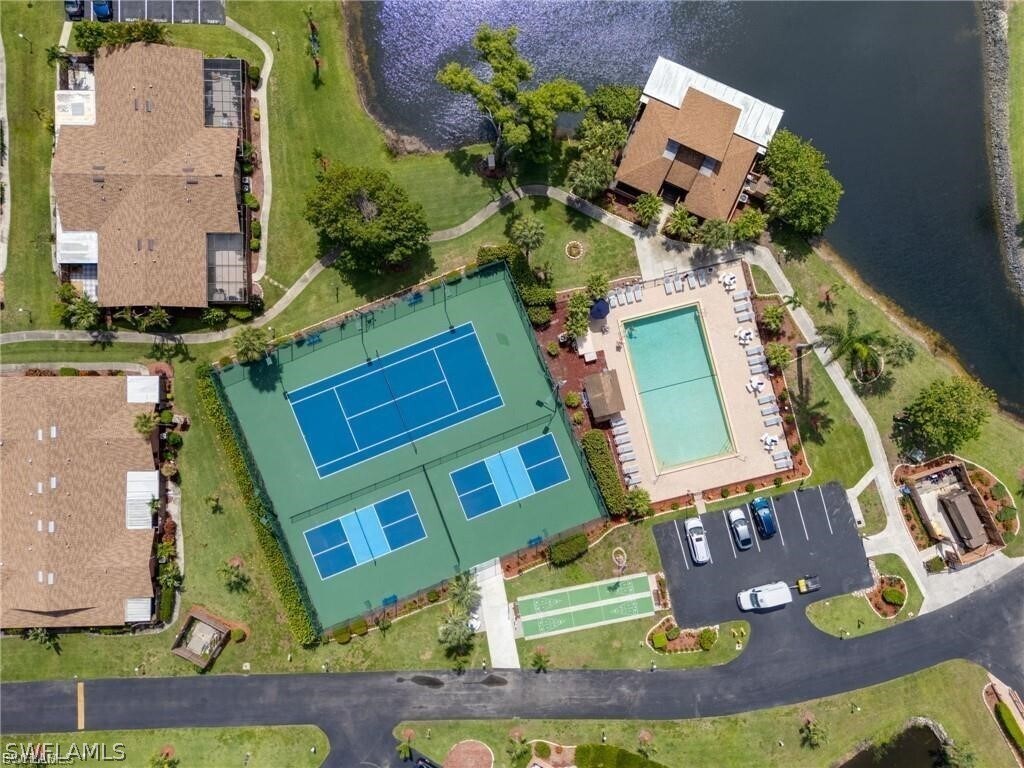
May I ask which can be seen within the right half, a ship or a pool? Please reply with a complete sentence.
Visible within the right half is a pool.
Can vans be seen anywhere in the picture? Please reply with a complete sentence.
Yes, I can see a van in this picture.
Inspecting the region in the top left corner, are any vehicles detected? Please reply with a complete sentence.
Yes, a vehicle shows up in the top left corner.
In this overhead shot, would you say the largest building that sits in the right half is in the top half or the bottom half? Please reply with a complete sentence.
The top half of the photo is where the largest building that sits in the right half is.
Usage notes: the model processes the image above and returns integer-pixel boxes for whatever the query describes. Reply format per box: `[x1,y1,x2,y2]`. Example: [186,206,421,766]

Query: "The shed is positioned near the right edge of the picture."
[932,491,989,549]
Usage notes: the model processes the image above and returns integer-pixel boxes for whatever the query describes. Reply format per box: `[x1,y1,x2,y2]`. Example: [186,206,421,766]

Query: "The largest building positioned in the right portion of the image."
[614,57,782,224]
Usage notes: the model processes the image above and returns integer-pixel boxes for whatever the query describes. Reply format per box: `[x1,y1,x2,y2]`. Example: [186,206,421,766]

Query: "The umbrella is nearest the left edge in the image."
[590,300,609,319]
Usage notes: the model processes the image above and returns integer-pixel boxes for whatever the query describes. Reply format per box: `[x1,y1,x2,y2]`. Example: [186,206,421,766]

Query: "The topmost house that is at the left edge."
[50,43,254,307]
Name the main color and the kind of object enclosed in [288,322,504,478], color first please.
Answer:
blue tennis court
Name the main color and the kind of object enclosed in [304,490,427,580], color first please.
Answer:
blue sports court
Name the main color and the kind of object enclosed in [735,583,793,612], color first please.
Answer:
white van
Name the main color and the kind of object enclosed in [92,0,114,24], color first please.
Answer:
blue car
